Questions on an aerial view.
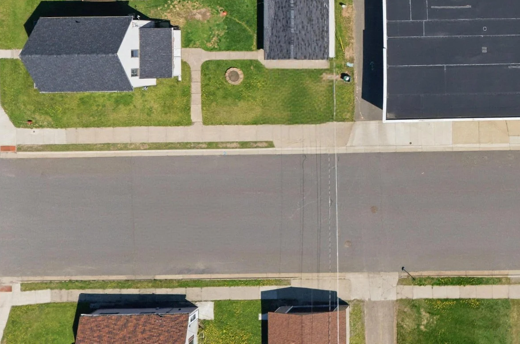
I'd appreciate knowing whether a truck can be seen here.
No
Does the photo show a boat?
No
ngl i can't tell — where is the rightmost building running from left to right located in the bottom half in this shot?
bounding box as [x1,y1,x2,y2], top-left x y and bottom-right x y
[268,306,350,344]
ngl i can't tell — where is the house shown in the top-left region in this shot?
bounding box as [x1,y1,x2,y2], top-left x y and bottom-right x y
[20,15,181,93]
